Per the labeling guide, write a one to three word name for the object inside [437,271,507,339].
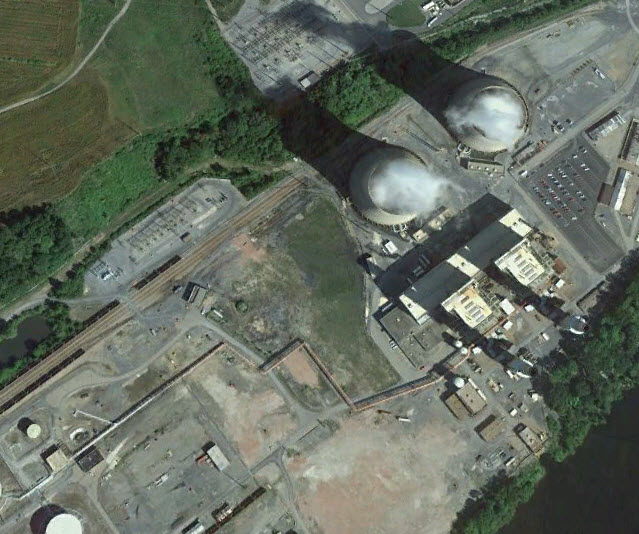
building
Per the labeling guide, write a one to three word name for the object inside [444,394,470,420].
building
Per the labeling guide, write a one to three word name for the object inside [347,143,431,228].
cooling tower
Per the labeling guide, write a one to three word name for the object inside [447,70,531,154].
cooling tower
